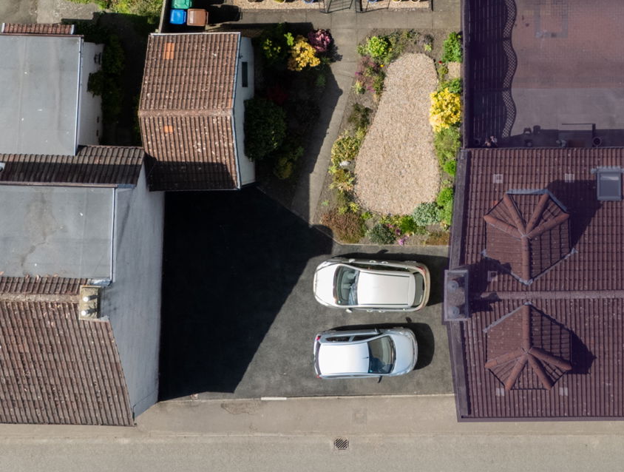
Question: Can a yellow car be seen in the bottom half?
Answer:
No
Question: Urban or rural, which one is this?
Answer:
urban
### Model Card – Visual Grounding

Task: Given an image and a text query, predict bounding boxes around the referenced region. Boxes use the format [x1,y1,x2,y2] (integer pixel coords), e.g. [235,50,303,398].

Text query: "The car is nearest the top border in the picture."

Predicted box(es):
[312,256,431,319]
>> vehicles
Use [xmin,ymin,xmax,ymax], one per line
[310,326,418,388]
[312,256,431,319]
